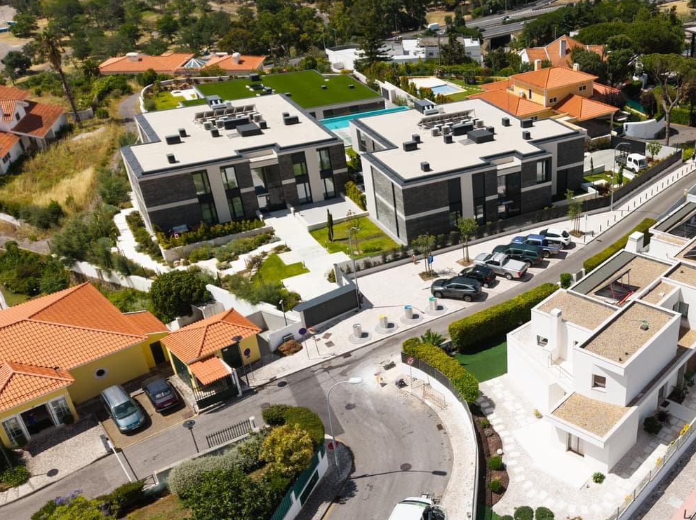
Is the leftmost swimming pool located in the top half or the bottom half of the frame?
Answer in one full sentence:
The leftmost swimming pool sits in the top half of the picture.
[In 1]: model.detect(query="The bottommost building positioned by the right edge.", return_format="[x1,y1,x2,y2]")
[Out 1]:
[506,249,696,470]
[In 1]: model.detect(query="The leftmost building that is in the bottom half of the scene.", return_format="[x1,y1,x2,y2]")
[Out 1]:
[0,279,170,455]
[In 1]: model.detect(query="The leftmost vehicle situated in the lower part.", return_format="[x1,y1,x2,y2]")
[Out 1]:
[98,377,147,430]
